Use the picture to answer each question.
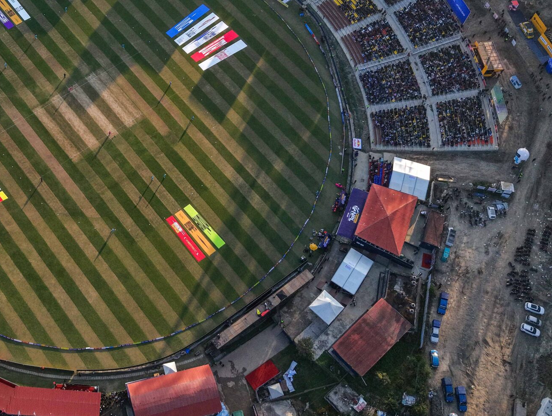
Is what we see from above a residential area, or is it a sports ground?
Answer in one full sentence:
It's a sports ground.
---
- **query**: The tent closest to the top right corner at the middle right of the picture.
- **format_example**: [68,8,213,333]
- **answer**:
[387,157,429,206]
